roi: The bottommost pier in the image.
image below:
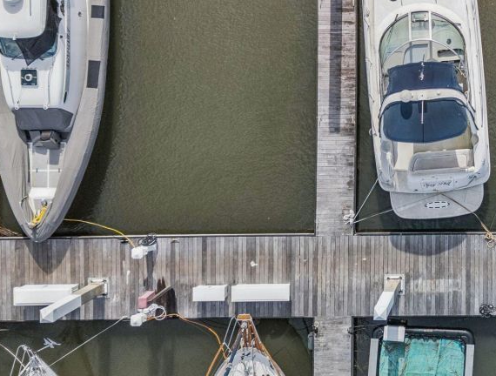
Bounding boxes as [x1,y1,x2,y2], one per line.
[312,318,357,376]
